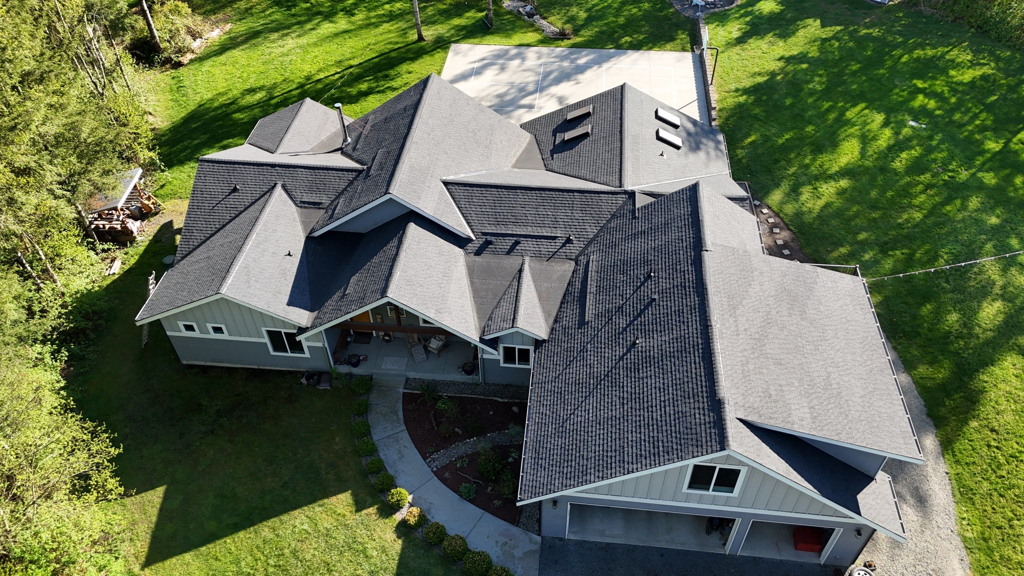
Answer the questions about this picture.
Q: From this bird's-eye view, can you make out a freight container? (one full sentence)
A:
No, the photo shows no freight container.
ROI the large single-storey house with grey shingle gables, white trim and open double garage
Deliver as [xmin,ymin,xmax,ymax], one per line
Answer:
[135,72,928,565]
